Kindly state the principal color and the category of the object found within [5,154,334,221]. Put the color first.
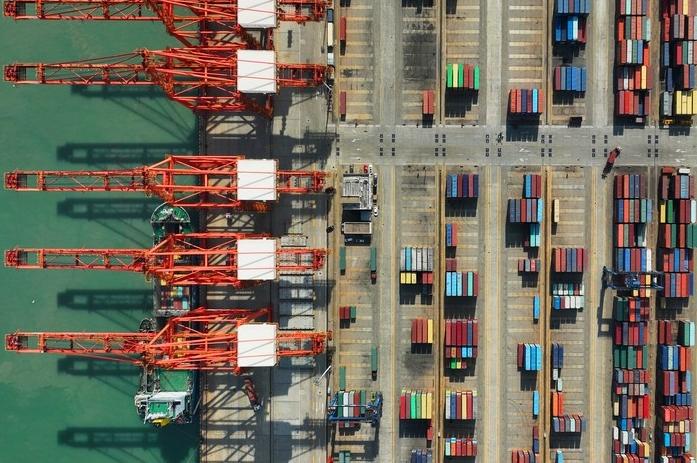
red container crane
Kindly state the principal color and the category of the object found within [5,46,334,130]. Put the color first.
red container crane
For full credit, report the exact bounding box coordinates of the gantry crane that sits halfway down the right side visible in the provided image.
[604,268,666,290]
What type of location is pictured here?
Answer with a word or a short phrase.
port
